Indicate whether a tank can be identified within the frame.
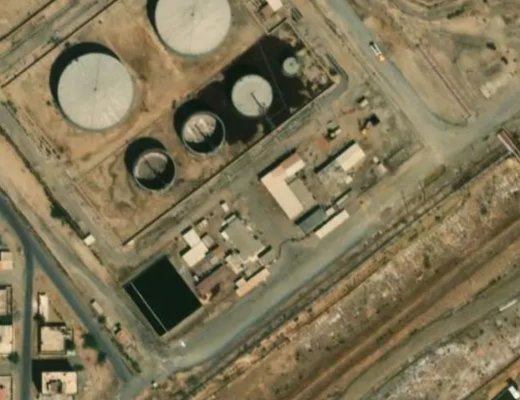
Yes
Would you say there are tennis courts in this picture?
No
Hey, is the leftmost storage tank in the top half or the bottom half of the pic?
top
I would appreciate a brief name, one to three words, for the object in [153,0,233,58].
storage tank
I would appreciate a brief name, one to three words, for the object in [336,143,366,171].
building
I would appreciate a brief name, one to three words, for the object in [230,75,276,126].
storage tank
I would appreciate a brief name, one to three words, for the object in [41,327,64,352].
house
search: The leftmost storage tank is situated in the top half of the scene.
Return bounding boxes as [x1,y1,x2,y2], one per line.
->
[56,53,136,132]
